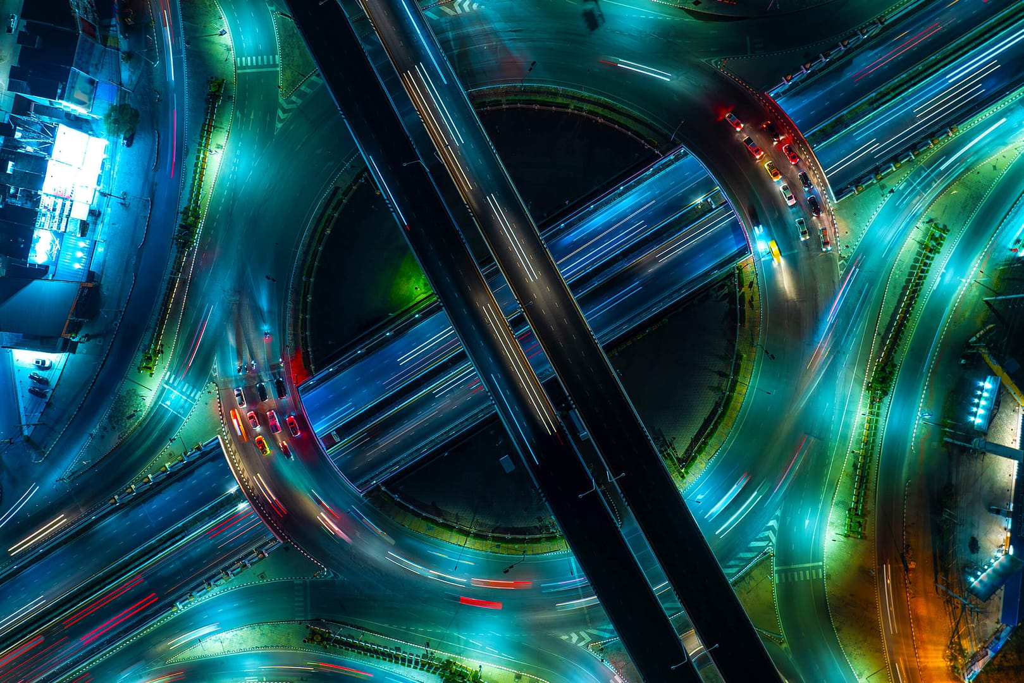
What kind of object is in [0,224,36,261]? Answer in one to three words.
building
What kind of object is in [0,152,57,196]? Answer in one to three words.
building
